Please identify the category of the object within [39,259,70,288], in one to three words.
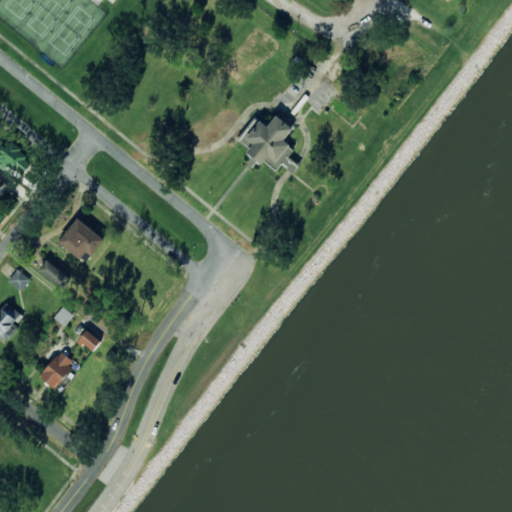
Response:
house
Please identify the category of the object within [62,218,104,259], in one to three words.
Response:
house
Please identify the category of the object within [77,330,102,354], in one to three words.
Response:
building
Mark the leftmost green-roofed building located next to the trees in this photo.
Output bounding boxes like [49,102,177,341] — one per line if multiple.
[0,140,29,176]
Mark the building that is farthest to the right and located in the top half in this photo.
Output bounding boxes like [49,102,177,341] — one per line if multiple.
[236,116,294,174]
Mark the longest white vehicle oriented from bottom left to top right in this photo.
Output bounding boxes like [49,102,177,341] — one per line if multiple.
[292,96,308,116]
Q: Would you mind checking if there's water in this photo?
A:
Yes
